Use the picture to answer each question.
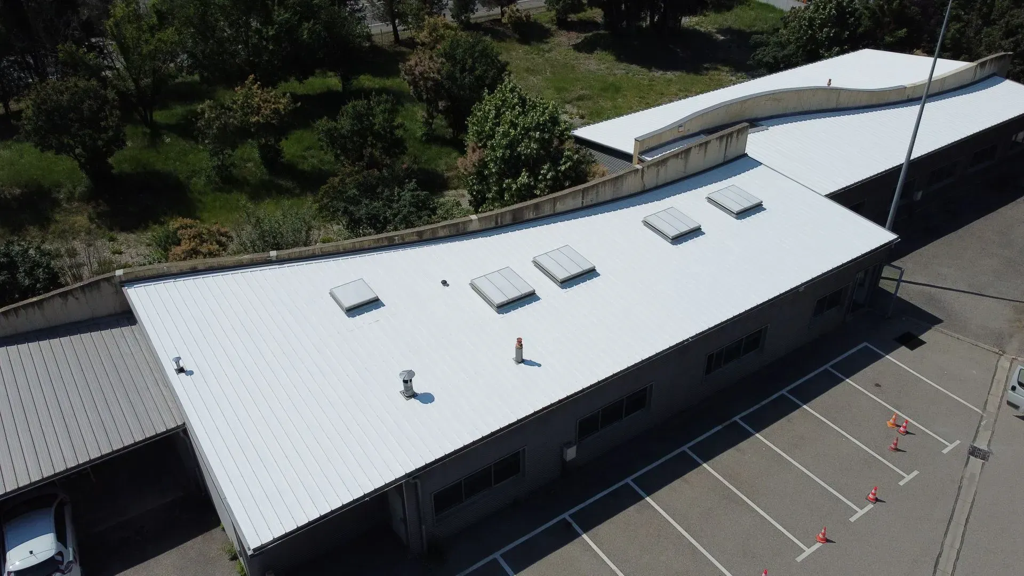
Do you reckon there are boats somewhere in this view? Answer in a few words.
No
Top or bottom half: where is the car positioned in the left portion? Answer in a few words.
bottom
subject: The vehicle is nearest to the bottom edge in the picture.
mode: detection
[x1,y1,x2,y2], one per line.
[0,490,82,576]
